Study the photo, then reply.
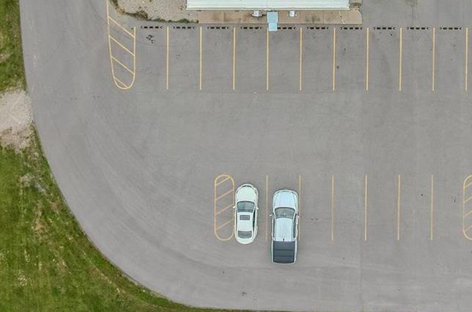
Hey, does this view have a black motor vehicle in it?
No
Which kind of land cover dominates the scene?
paved ground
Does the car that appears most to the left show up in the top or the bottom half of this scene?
bottom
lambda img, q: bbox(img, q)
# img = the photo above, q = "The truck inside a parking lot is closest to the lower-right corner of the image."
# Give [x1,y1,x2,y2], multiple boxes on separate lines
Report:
[269,191,299,266]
